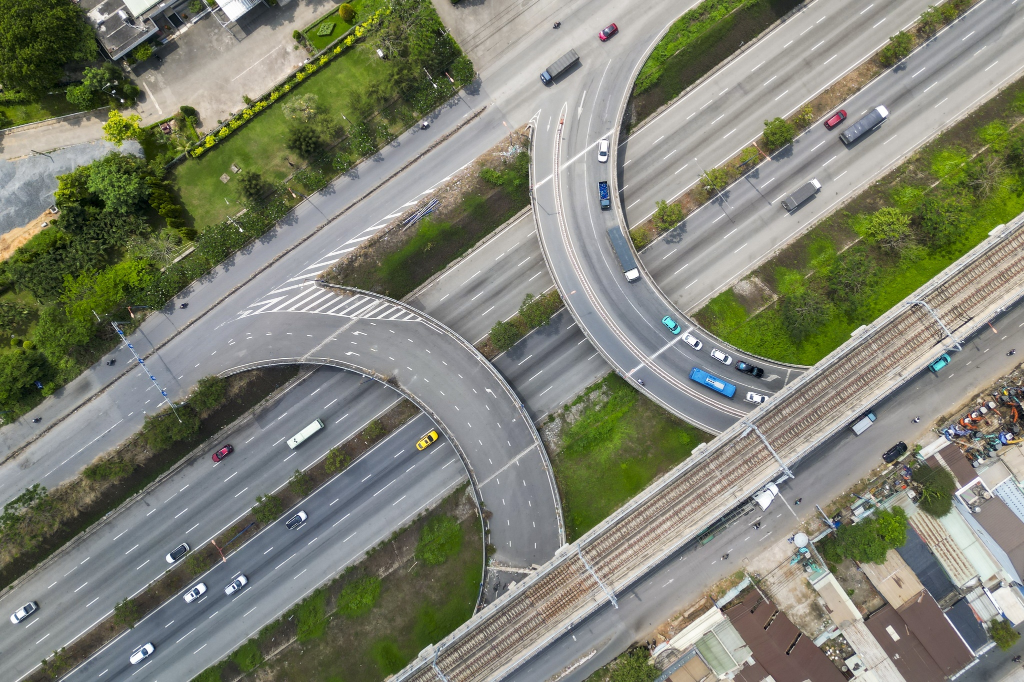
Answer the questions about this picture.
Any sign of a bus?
Yes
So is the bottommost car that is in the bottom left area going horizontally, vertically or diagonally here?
diagonally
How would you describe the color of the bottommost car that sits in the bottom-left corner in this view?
white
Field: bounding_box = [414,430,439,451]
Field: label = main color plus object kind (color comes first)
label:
yellow car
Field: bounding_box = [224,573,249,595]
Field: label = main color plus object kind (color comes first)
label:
white car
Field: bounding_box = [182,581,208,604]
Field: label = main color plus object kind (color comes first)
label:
white car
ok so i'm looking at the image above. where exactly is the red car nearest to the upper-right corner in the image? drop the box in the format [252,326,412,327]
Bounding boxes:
[822,109,847,129]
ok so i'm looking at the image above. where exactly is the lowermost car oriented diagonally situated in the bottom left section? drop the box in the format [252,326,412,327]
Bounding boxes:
[130,642,156,664]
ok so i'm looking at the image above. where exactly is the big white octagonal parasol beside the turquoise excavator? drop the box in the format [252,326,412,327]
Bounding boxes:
[792,531,809,547]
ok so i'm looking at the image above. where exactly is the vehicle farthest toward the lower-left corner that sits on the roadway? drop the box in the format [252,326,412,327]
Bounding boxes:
[11,601,39,622]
